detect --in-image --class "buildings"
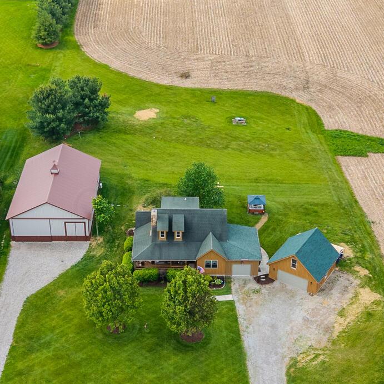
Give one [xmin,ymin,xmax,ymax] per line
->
[131,196,264,278]
[266,228,341,294]
[4,144,102,242]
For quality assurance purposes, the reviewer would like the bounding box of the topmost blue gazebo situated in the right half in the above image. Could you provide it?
[246,193,268,217]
